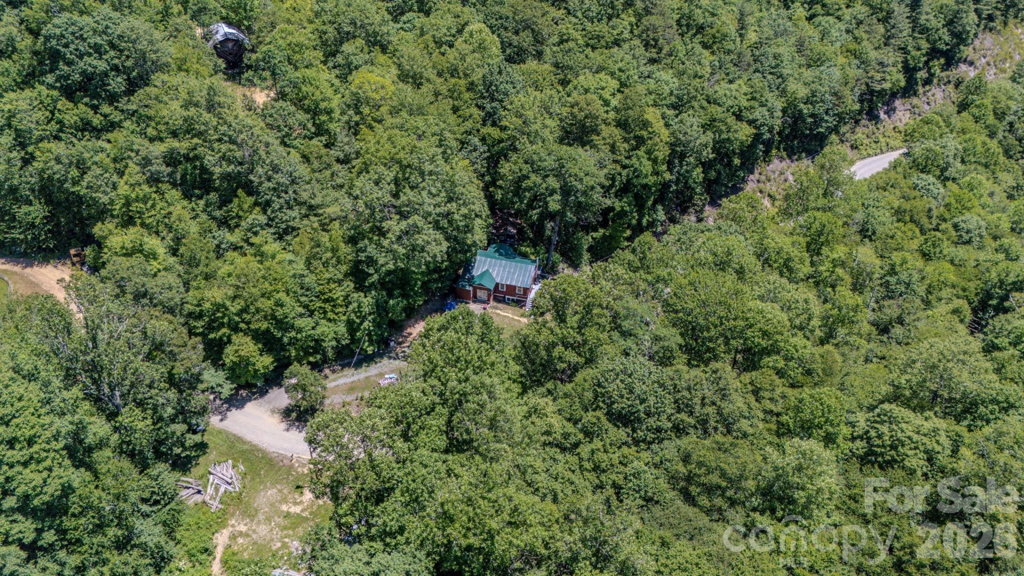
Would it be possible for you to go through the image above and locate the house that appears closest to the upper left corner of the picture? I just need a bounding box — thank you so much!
[201,20,250,72]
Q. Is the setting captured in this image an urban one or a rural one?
rural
